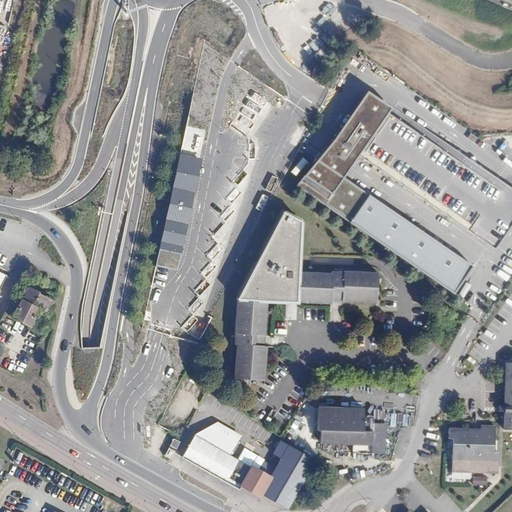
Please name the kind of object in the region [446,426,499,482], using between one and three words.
house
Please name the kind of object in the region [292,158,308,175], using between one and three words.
vehicle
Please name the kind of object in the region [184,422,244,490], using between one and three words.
building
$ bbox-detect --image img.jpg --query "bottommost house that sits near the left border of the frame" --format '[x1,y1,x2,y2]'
[12,286,56,328]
